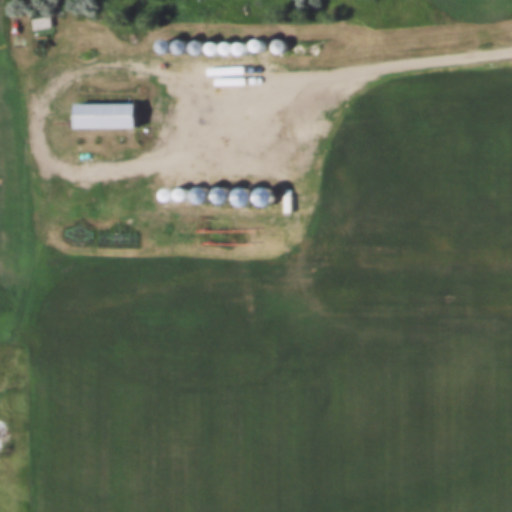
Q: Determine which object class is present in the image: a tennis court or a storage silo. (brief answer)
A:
storage silo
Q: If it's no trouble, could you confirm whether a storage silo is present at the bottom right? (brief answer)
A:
No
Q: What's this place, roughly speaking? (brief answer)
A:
farmland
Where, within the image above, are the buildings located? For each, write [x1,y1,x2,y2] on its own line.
[32,18,54,37]
[72,104,134,130]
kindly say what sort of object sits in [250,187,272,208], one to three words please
silo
